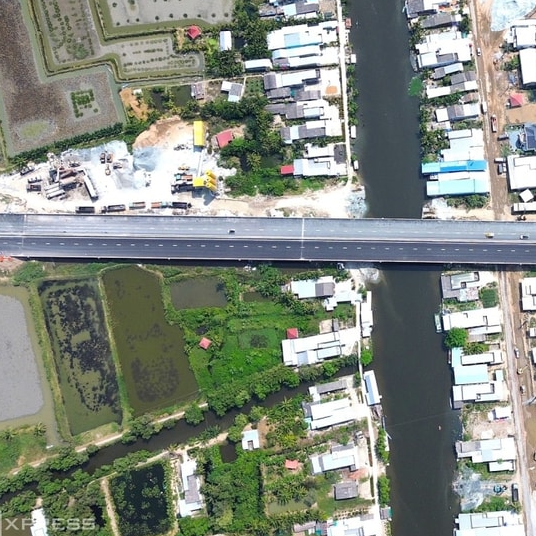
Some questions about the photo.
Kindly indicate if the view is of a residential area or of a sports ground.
residential area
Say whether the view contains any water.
Yes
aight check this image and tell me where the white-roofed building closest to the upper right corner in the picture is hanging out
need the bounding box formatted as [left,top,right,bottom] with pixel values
[506,19,536,49]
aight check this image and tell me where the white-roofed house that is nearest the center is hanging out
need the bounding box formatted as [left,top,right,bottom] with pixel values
[281,276,335,298]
